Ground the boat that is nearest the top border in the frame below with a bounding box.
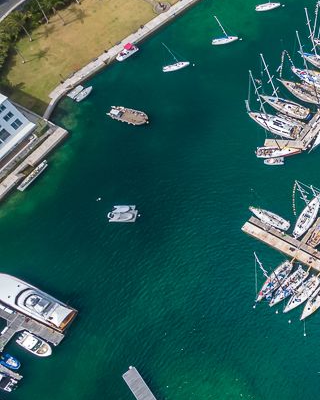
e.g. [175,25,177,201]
[257,0,280,13]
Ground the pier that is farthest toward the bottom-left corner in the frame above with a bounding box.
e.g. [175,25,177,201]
[0,309,65,381]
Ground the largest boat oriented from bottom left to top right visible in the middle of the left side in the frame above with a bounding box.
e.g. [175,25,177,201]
[18,163,47,193]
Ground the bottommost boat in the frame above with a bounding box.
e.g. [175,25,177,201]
[0,370,20,395]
